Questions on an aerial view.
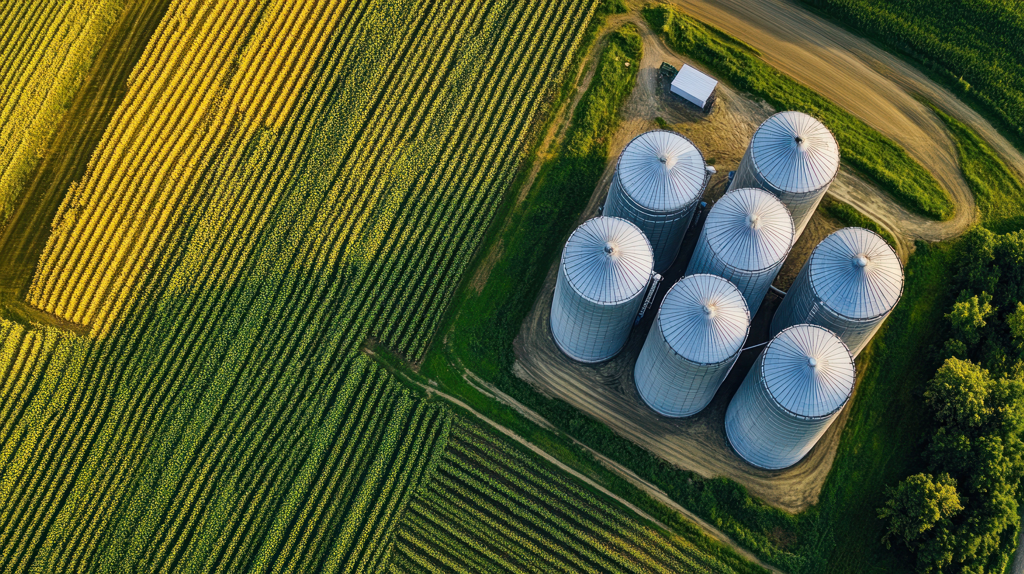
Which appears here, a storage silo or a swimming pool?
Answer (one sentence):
It is a storage silo that can be seen here.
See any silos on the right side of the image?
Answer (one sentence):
Yes, on the right side of the image there is a silo.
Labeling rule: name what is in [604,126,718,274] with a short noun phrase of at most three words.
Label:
silo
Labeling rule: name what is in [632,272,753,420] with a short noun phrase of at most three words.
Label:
silo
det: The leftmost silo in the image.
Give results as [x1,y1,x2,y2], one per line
[546,215,656,365]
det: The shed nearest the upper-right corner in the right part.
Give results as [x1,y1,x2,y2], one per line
[670,63,718,109]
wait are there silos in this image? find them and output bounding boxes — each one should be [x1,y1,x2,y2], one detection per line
[727,324,860,473]
[731,108,842,254]
[546,215,656,365]
[771,225,907,360]
[681,187,797,324]
[604,126,718,274]
[632,272,753,420]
